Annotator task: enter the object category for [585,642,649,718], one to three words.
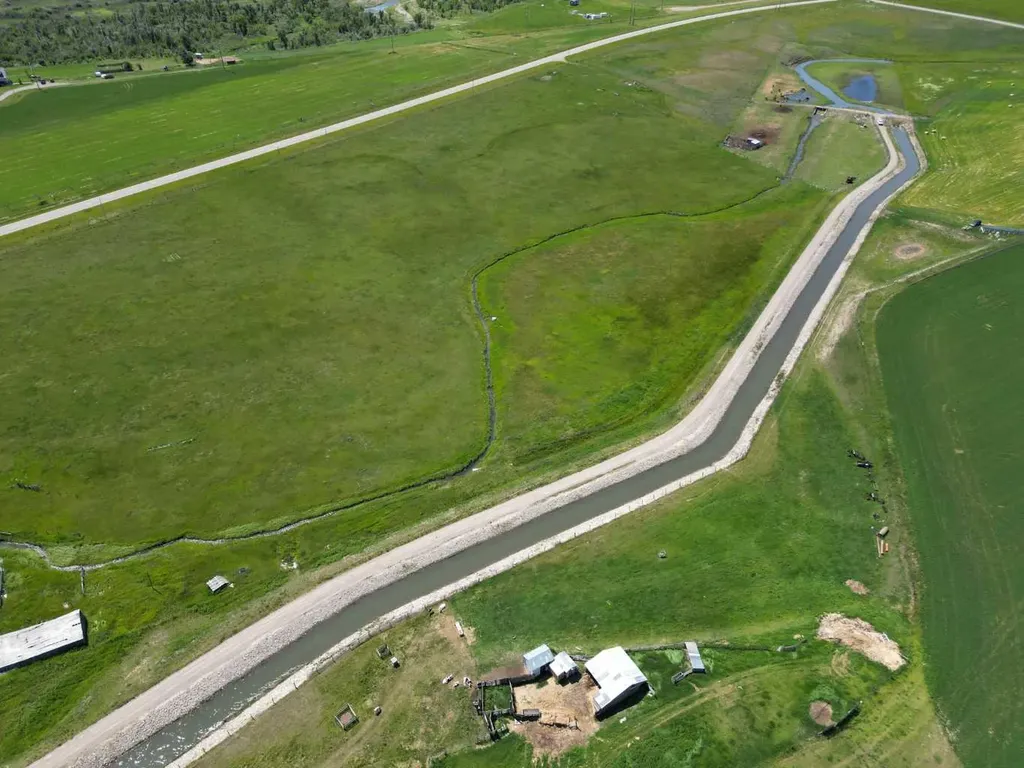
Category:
barn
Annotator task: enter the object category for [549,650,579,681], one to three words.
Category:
shed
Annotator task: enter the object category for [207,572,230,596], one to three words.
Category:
shed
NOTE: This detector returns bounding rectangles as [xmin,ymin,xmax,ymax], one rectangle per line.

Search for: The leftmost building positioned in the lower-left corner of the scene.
[0,609,87,672]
